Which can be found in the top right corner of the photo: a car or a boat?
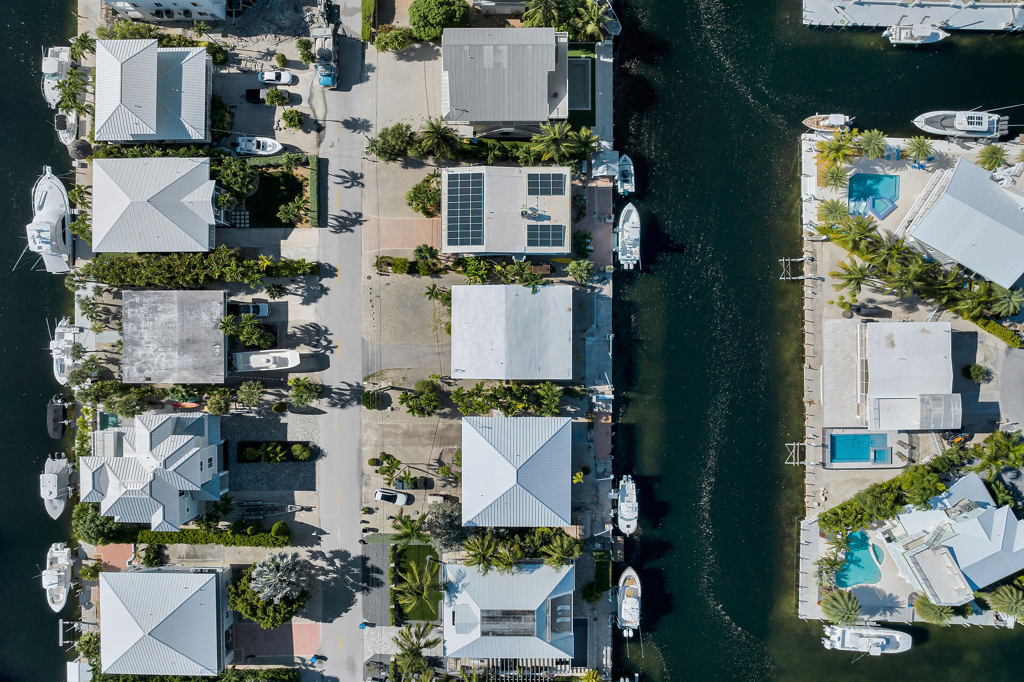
boat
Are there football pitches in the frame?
No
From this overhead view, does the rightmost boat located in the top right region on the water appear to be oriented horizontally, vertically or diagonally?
horizontally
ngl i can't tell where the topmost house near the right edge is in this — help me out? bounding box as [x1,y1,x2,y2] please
[895,157,1024,289]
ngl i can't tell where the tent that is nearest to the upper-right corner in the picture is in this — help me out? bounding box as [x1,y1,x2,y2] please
[590,145,618,175]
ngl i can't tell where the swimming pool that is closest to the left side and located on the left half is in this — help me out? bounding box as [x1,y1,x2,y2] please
[98,411,119,431]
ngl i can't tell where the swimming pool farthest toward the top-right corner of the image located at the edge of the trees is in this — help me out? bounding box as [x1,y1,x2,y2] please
[847,172,901,219]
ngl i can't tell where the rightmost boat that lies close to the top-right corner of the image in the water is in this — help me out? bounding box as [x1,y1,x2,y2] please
[916,101,1023,138]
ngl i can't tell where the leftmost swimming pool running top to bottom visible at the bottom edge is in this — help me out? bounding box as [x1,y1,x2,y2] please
[571,616,590,670]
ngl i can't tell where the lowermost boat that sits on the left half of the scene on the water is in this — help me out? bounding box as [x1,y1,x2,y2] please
[28,544,72,611]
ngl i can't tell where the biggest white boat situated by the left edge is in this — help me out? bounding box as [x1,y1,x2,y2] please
[1,154,83,272]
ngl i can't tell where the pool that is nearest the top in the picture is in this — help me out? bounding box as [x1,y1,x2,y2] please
[567,57,592,111]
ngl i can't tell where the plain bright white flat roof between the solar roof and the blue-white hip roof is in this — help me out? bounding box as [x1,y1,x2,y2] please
[451,284,573,379]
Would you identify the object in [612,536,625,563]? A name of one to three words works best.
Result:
pier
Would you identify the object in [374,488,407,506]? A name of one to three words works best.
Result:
car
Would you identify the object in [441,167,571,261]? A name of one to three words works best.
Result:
house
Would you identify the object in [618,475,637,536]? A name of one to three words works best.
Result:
boat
